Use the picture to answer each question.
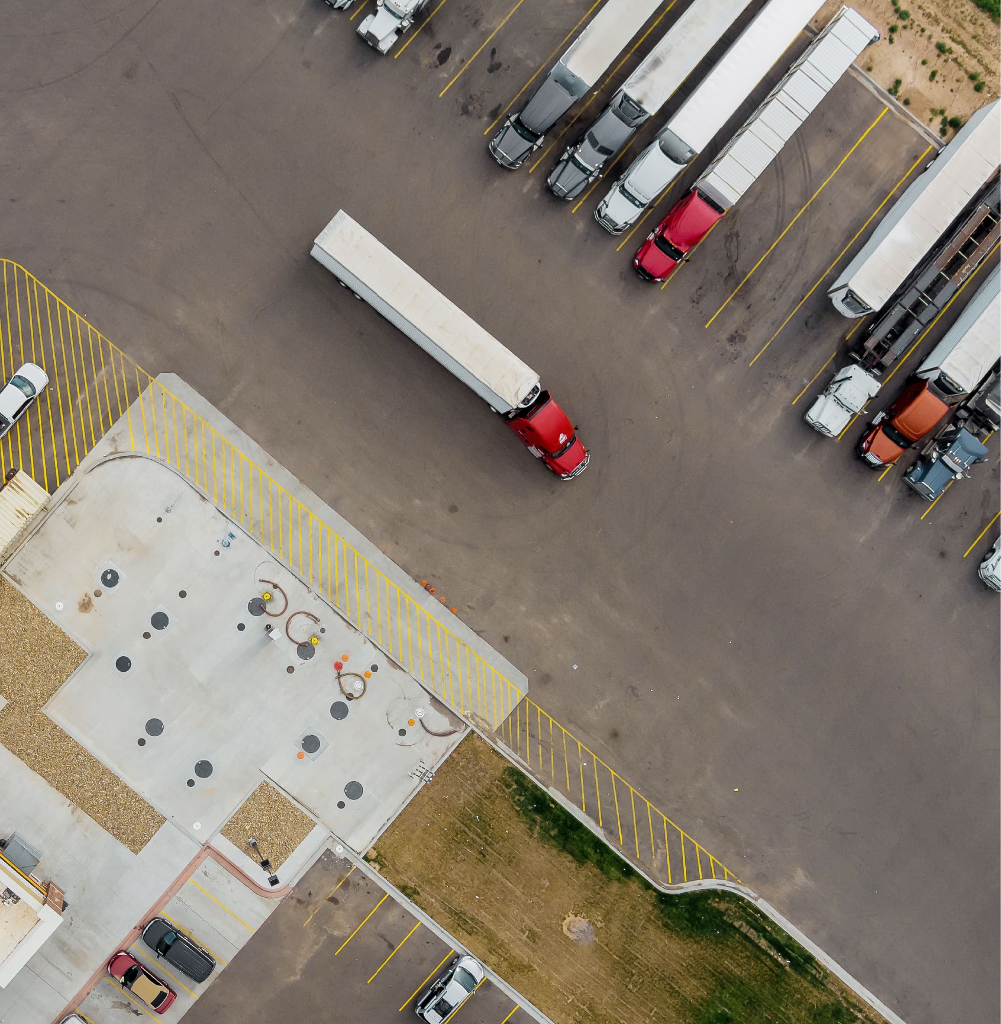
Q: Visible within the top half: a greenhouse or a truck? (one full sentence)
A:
What appears within the top half is a truck.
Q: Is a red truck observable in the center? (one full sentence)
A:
Yes, in the center there is a red truck.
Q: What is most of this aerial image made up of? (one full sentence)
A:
The bulk of the photo consists of paved ground.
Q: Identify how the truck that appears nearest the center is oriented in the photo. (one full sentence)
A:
I'd say the truck that appears nearest the center is aligned diagonally in the picture.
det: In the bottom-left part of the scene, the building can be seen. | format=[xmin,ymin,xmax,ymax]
[0,844,65,988]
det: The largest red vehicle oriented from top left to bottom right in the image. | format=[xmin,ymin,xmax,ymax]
[488,392,590,480]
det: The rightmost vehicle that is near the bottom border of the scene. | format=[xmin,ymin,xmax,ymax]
[418,953,484,1024]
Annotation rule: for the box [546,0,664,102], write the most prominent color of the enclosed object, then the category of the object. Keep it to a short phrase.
white trailer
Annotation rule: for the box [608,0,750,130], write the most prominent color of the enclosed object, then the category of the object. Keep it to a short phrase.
white trailer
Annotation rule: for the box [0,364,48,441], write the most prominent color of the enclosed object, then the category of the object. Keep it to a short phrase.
white truck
